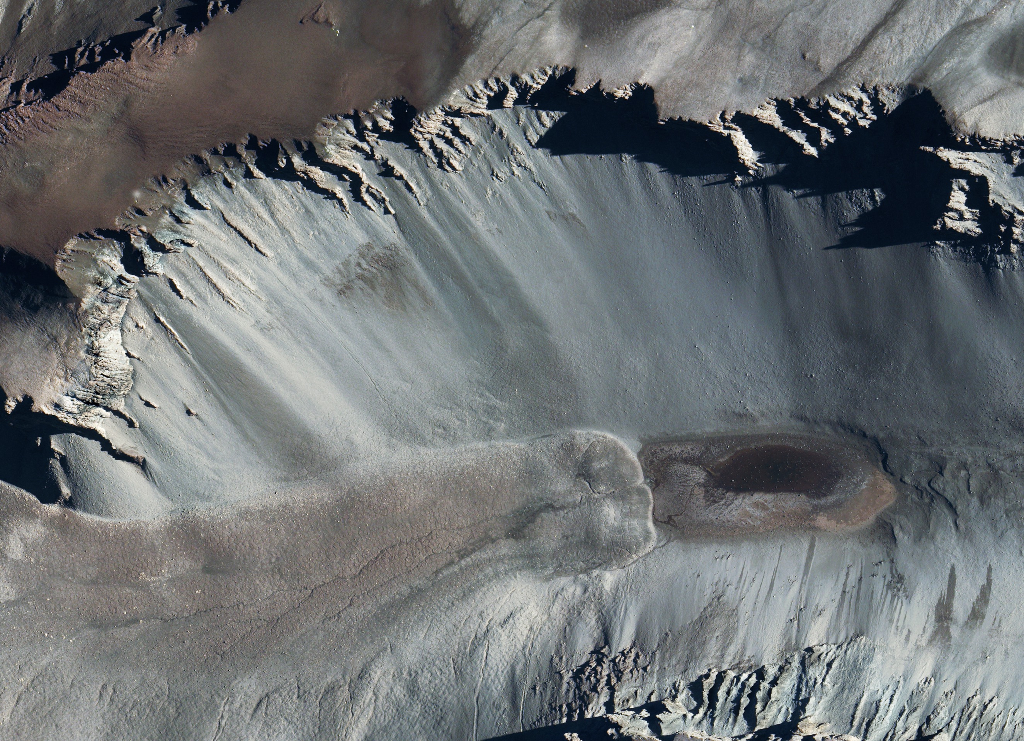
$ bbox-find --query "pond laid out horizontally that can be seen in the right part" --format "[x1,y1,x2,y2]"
[709,445,840,497]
